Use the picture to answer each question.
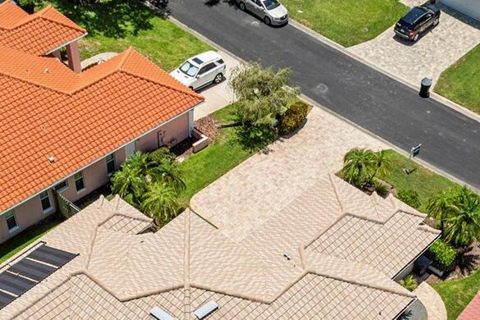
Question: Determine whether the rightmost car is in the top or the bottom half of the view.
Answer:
top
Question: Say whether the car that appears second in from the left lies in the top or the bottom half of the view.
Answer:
top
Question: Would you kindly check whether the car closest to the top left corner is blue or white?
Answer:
white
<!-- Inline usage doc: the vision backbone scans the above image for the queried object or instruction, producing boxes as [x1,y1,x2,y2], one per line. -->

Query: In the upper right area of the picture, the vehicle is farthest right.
[392,1,446,41]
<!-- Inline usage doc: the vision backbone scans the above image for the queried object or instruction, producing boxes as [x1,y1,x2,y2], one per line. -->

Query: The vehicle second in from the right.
[236,0,293,26]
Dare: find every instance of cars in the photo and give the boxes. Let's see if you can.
[165,44,230,89]
[236,0,293,26]
[392,1,446,41]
